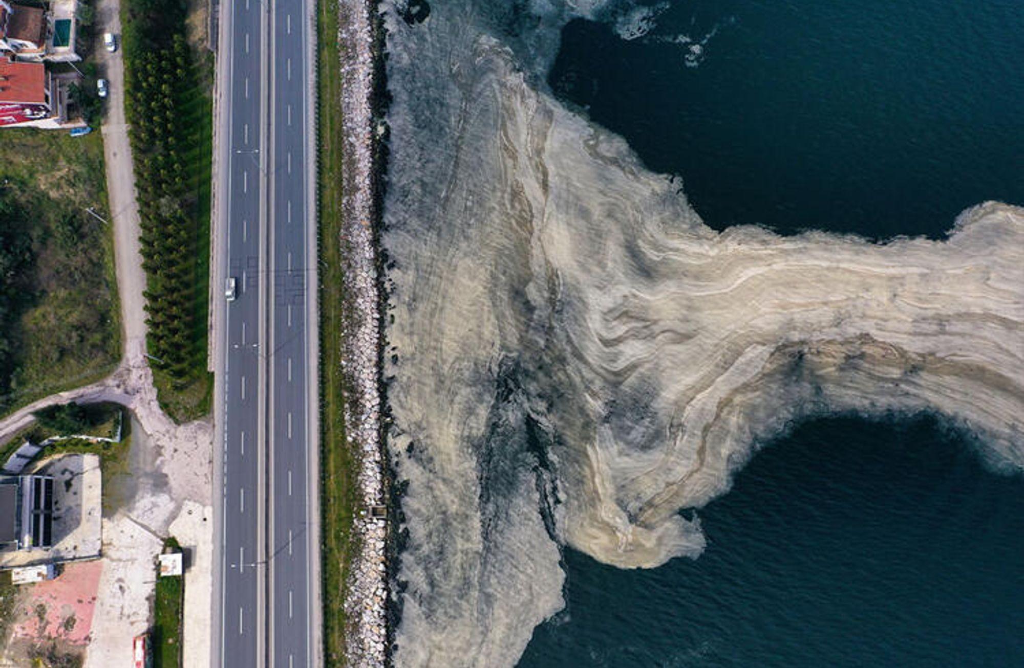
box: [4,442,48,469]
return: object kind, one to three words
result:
shed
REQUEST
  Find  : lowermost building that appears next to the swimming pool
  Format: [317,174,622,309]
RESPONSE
[0,61,81,134]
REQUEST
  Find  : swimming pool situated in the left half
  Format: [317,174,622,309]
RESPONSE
[43,0,82,62]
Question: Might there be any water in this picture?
Yes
